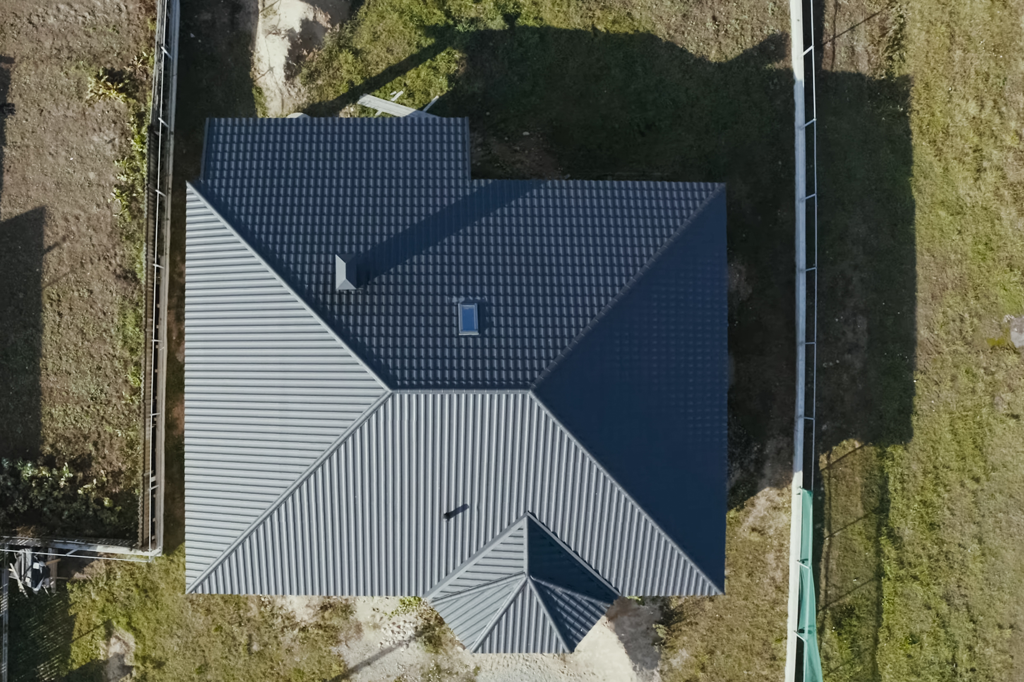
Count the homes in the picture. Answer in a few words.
1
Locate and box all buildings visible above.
[184,116,727,655]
